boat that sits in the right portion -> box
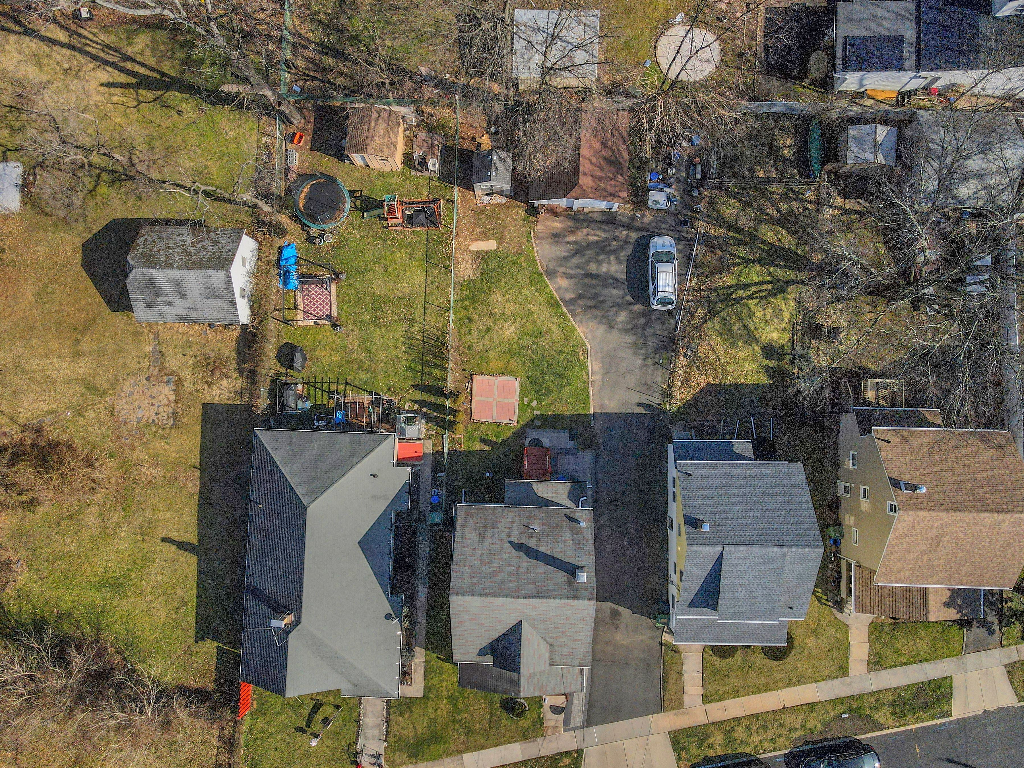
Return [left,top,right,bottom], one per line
[810,118,824,179]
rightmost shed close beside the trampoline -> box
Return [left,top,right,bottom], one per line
[344,105,405,170]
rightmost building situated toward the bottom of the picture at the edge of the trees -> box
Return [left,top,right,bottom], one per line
[835,407,1024,621]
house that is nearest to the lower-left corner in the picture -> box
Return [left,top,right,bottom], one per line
[239,428,414,700]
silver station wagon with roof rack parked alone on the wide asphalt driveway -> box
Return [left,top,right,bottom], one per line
[650,235,679,308]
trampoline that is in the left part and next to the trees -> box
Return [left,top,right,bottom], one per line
[293,175,351,236]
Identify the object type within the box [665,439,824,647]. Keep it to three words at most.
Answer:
house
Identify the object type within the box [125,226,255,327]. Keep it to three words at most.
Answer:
building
